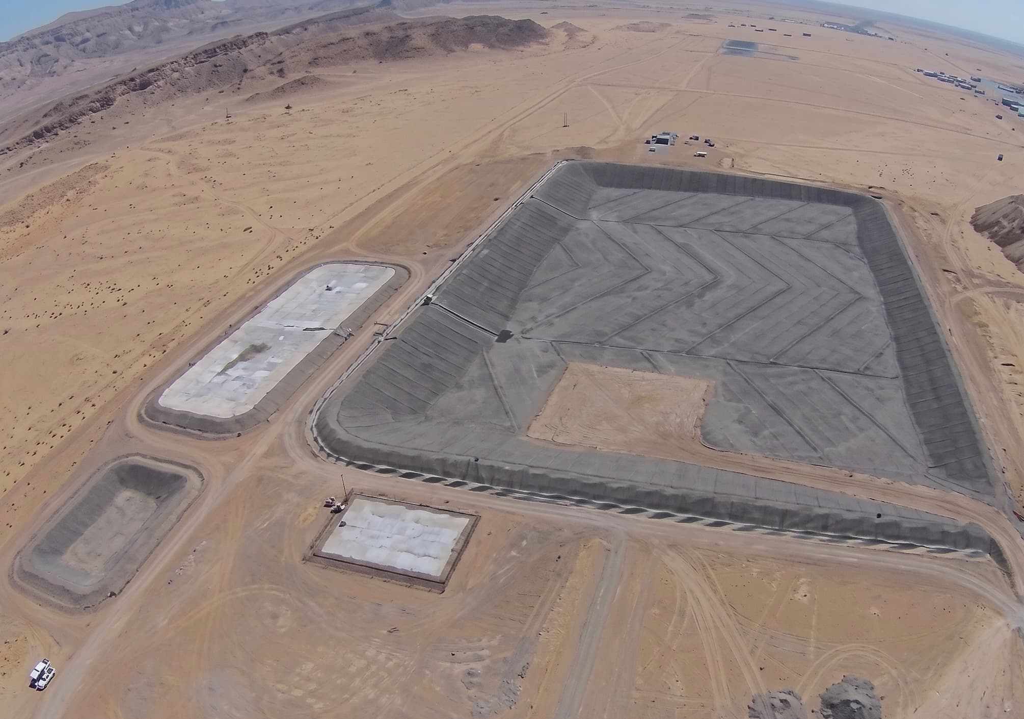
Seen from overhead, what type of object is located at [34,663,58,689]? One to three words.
truck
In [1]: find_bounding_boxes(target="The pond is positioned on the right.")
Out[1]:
[313,161,1018,599]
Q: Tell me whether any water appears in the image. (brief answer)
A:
Yes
